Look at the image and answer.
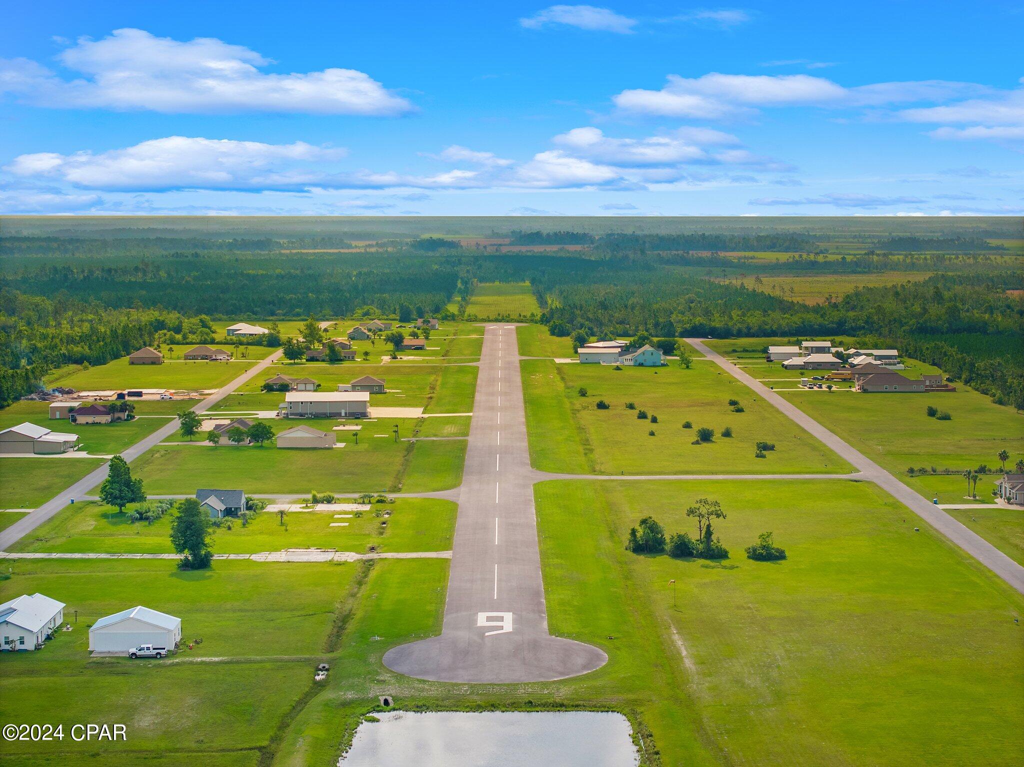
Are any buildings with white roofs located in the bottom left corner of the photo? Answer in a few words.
Yes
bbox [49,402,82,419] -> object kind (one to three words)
shed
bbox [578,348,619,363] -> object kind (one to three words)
hangar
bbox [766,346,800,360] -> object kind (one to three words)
barn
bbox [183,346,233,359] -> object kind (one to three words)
house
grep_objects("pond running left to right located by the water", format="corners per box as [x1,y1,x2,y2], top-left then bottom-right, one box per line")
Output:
[342,709,643,767]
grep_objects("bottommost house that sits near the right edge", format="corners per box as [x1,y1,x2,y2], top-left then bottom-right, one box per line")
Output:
[987,474,1024,503]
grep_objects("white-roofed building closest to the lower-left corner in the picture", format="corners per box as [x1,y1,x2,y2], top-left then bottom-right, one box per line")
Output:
[0,594,66,650]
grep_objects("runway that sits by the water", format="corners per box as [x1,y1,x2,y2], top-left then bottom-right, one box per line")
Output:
[386,323,606,678]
